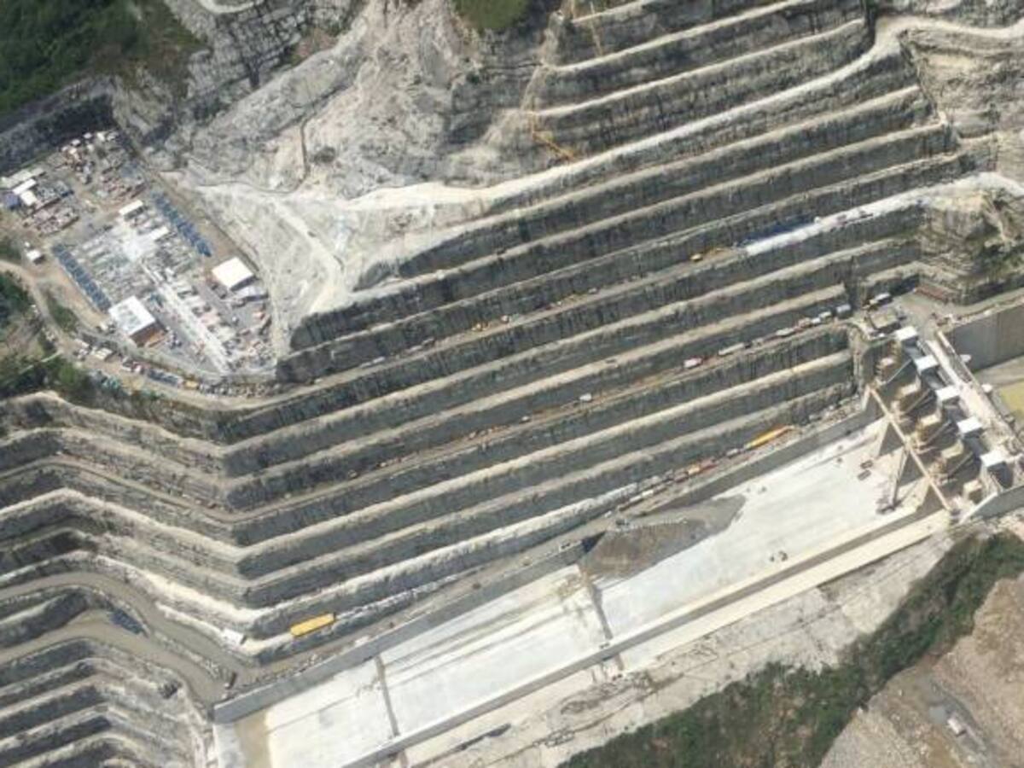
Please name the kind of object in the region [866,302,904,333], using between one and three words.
shed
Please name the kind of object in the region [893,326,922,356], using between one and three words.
building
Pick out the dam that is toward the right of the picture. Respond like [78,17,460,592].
[852,329,1024,539]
